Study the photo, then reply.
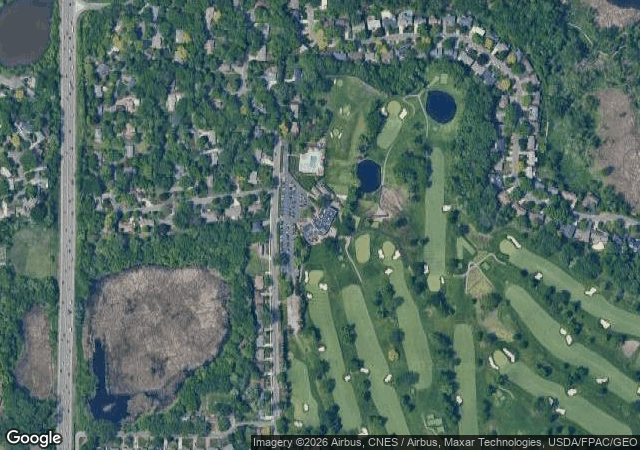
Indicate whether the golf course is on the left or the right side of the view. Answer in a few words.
right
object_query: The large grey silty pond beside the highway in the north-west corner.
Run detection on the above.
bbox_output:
[0,0,54,66]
